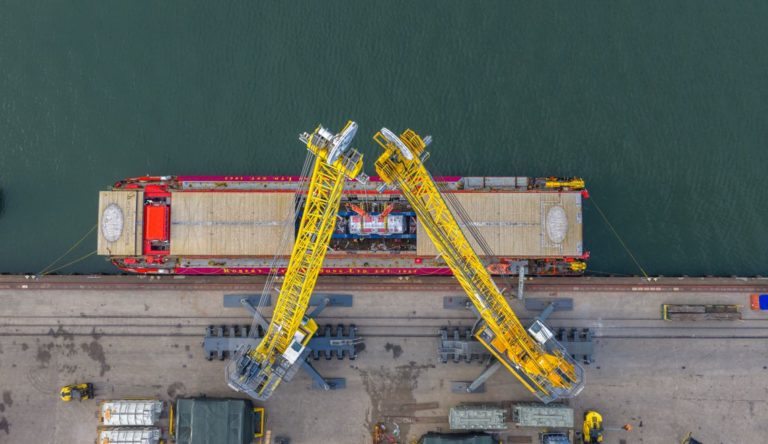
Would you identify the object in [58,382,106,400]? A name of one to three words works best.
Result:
work vehicle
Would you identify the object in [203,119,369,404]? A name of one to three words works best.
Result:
crane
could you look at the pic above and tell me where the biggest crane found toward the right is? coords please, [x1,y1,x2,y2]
[366,124,593,403]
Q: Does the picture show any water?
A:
Yes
